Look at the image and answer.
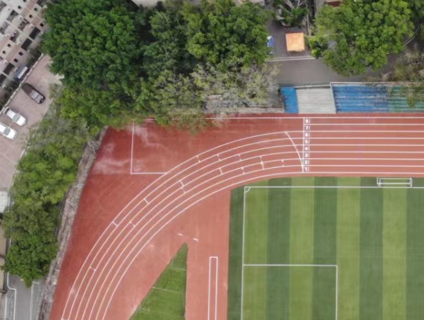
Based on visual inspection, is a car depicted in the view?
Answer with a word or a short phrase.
Yes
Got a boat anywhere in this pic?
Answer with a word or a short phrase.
No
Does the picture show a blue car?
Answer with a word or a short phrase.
No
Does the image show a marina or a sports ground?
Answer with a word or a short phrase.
sports ground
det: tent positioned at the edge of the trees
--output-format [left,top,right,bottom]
[286,32,306,55]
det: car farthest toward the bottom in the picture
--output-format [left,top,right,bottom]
[0,121,19,139]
